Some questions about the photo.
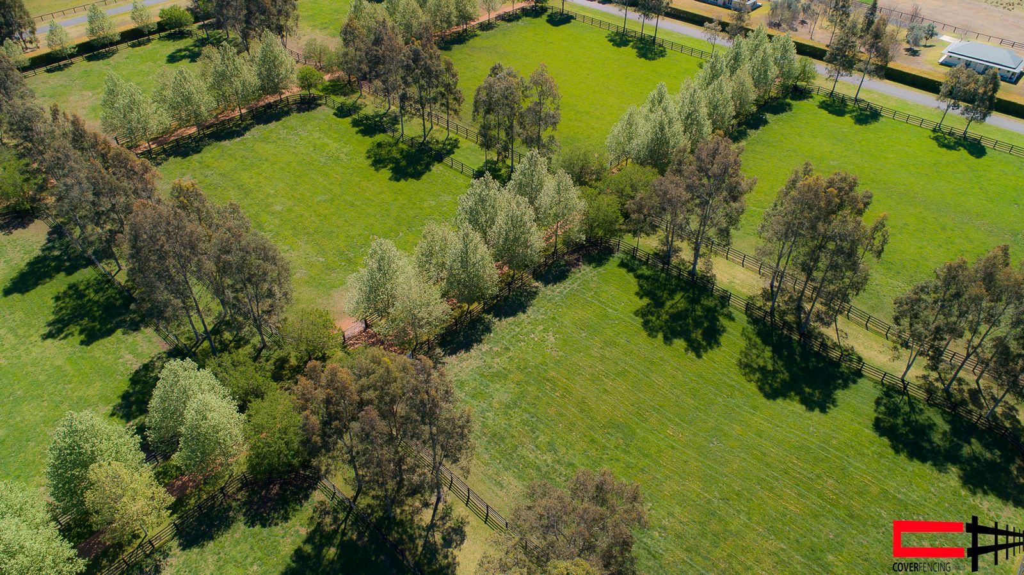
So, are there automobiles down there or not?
No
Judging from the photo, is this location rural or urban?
rural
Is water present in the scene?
No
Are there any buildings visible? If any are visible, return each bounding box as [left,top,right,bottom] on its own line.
[699,0,758,11]
[937,35,1024,84]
